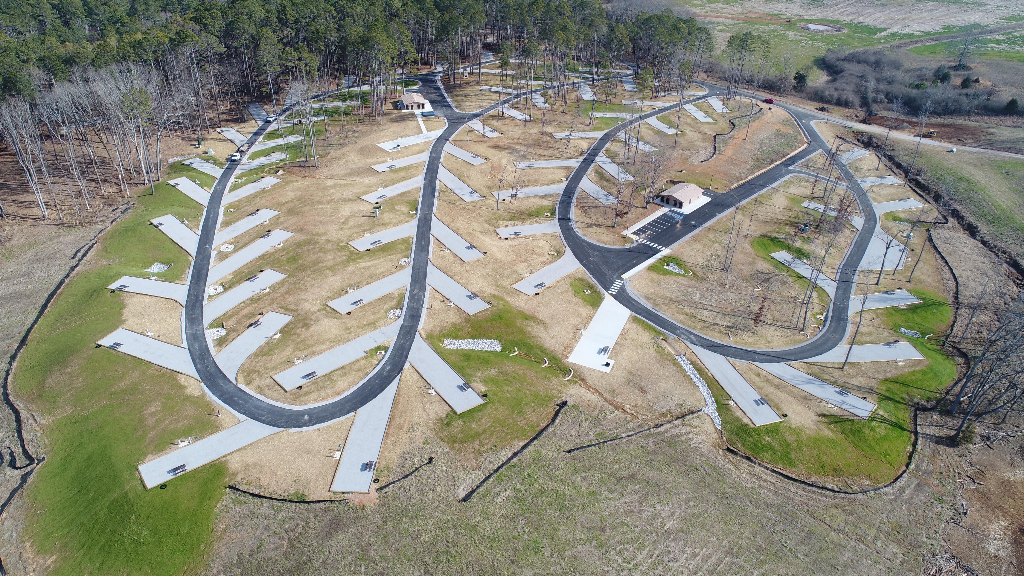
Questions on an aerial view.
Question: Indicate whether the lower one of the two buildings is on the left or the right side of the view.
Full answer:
The lower one of the two buildings sits on the right side.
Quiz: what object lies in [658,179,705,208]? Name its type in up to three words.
building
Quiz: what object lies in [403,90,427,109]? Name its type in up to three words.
building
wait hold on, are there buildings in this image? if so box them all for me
[403,90,427,109]
[658,179,705,208]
